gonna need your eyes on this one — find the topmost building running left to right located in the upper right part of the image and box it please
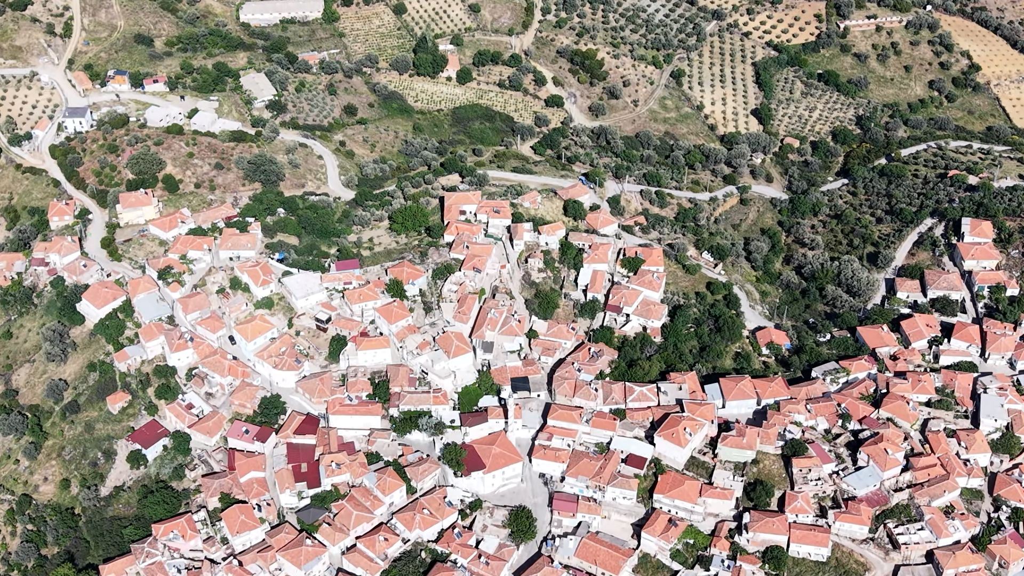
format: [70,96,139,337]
[838,16,903,32]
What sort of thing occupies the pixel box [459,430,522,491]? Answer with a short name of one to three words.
building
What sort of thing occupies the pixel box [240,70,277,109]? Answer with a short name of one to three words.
barn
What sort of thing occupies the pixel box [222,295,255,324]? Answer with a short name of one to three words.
shed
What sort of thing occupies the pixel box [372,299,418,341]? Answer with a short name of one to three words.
house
